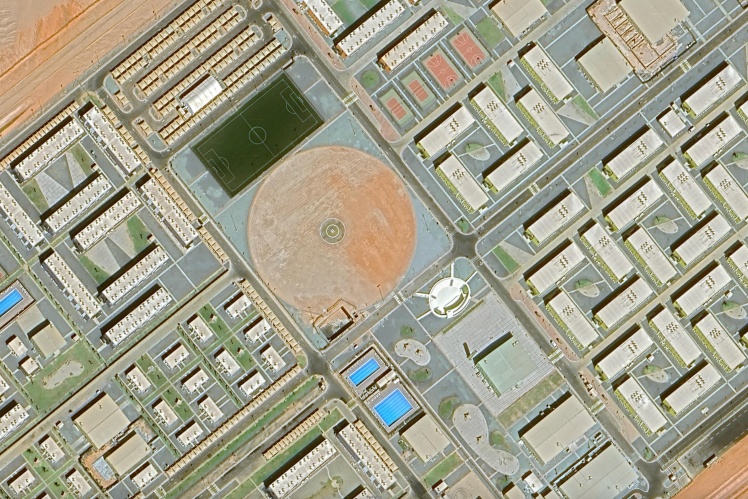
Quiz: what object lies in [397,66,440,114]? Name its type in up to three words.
sports court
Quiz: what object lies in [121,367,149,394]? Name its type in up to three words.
house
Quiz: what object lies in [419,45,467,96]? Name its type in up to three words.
basketball court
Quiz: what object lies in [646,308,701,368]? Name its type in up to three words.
building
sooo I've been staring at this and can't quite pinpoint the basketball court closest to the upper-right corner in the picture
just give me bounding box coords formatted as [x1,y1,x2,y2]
[445,24,492,75]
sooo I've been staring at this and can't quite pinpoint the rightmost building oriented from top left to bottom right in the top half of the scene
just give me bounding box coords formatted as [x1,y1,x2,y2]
[700,165,748,224]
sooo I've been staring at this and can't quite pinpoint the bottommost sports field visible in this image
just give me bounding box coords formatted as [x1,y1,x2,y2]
[249,147,416,313]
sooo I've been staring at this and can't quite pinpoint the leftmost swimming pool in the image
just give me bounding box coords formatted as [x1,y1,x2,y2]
[0,280,29,321]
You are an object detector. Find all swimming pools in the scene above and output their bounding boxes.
[343,351,386,392]
[0,280,29,321]
[367,381,417,432]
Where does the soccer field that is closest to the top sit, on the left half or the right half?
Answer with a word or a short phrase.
left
